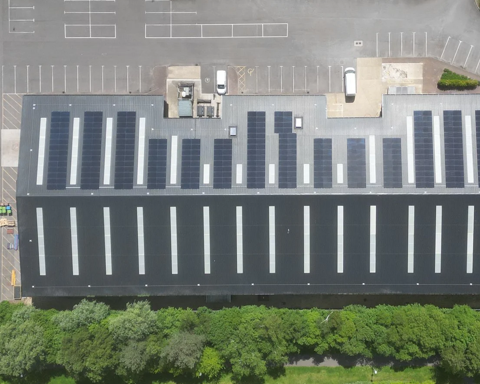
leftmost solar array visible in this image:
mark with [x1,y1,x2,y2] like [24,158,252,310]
[47,111,69,190]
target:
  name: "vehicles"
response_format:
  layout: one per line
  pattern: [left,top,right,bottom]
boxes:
[344,68,356,97]
[215,70,227,94]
